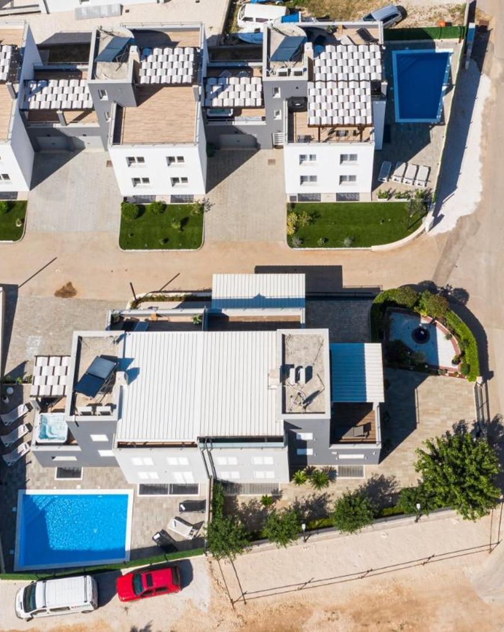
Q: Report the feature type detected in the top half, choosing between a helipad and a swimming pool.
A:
swimming pool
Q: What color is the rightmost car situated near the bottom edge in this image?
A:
red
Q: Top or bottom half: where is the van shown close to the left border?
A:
bottom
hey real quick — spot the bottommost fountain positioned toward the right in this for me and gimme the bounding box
[413,324,432,343]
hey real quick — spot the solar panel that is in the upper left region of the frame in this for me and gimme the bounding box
[94,33,134,73]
